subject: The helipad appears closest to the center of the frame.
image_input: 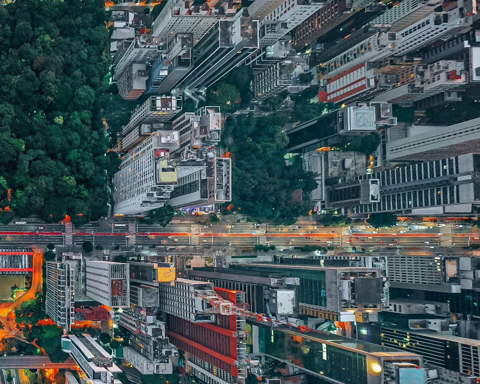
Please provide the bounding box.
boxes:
[157,267,176,282]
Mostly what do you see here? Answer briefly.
buildings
